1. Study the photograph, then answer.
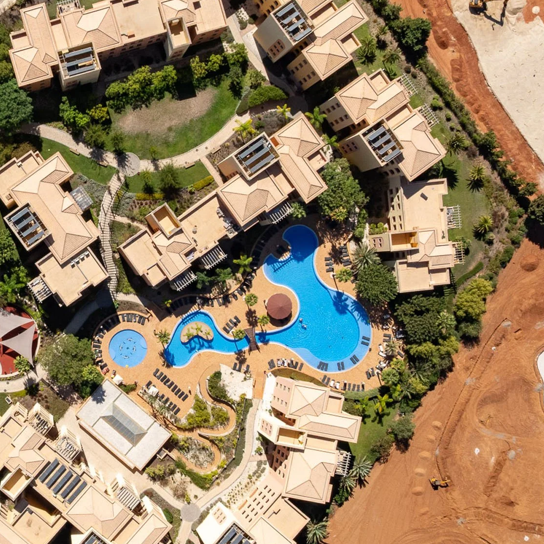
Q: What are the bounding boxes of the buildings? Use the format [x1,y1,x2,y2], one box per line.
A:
[0,151,108,306]
[115,114,330,291]
[372,178,467,292]
[260,381,362,504]
[257,0,368,87]
[198,486,310,544]
[0,400,172,544]
[10,0,227,93]
[324,69,447,184]
[76,378,172,470]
